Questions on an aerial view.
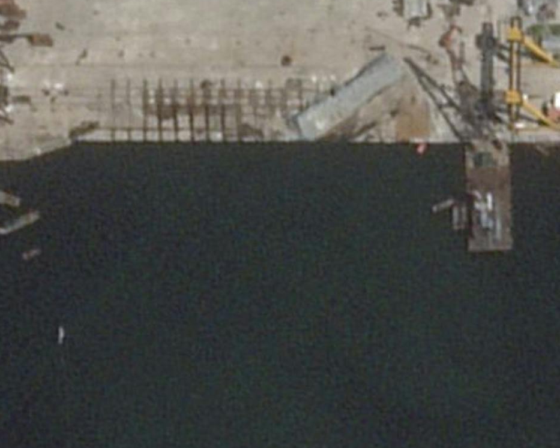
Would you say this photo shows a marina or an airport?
marina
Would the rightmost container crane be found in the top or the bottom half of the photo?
top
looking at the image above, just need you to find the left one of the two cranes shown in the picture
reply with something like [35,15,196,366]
[445,29,514,253]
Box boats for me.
[433,199,455,211]
[57,326,63,345]
[452,205,457,230]
[0,209,41,231]
[0,193,22,210]
[417,143,424,153]
[22,249,41,260]
[461,206,466,229]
